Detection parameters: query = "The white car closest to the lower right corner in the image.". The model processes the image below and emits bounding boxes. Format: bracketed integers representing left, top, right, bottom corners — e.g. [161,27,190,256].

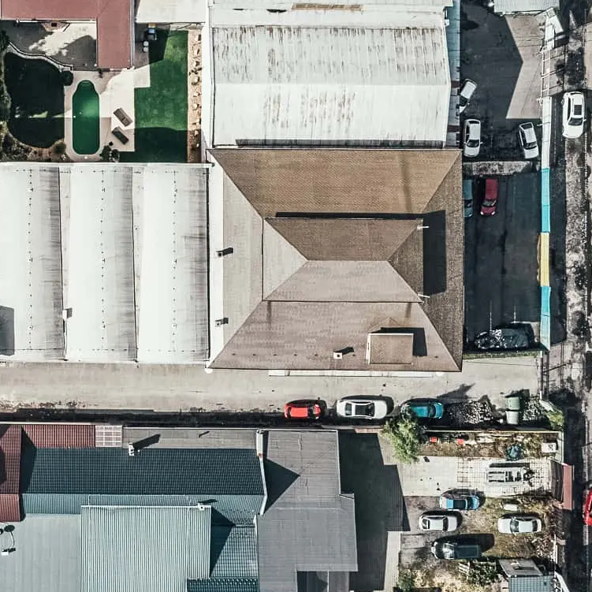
[499,515,545,538]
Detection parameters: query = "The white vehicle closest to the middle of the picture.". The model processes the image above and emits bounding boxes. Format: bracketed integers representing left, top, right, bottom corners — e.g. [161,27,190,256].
[339,398,390,421]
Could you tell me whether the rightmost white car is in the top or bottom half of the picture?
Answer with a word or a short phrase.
top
